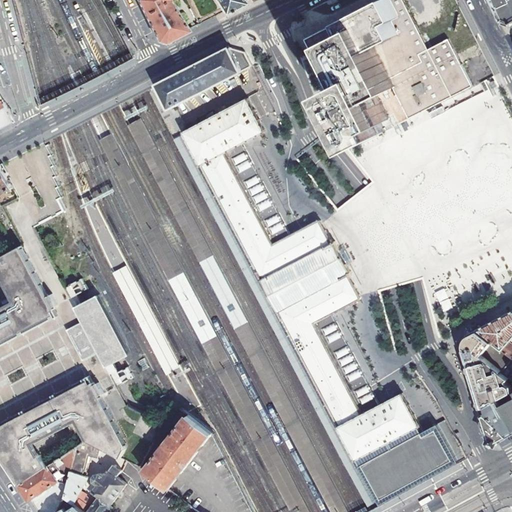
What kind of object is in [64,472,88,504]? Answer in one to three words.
house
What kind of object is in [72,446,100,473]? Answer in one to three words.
house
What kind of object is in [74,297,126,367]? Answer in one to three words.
building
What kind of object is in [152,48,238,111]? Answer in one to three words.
building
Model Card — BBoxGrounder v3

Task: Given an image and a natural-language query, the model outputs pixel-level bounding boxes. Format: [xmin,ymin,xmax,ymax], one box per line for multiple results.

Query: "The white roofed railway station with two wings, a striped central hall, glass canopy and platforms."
[85,99,418,512]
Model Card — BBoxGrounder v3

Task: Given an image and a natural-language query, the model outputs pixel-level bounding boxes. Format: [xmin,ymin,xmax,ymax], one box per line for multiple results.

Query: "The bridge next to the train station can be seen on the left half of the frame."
[38,51,151,140]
